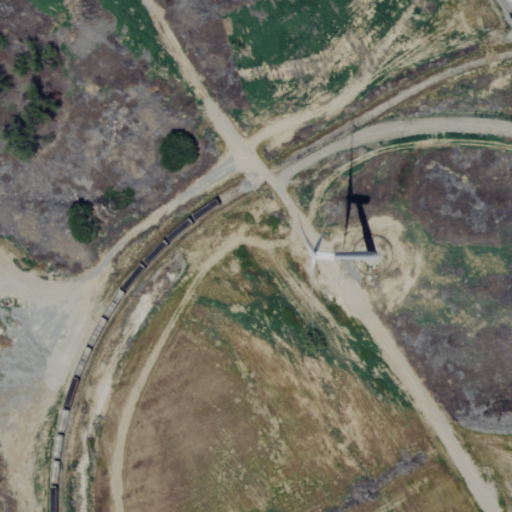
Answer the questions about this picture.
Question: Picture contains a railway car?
Yes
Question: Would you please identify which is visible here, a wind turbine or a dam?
wind turbine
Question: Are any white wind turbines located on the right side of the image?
Yes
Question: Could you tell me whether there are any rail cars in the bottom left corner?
Yes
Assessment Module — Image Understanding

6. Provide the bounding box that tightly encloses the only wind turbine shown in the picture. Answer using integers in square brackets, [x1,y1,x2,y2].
[300,212,384,336]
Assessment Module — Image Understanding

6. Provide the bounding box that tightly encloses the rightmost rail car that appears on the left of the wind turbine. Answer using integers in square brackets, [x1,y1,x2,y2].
[190,198,222,221]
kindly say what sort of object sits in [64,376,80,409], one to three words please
rail car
